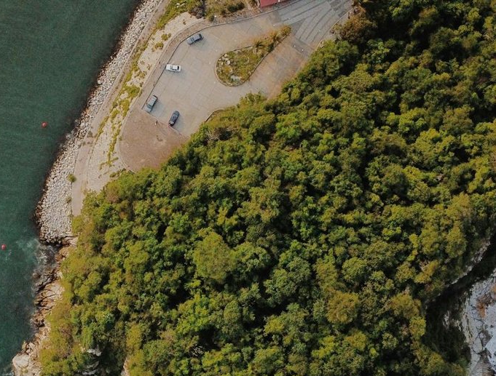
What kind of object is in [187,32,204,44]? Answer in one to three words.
vehicle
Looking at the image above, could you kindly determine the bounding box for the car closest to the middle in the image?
[168,109,181,126]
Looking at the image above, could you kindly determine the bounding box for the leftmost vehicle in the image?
[146,94,158,112]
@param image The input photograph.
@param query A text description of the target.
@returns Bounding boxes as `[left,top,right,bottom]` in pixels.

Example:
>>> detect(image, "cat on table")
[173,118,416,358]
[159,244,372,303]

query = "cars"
[168,109,181,126]
[146,94,158,112]
[165,62,182,72]
[187,32,204,44]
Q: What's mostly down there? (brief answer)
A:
trees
